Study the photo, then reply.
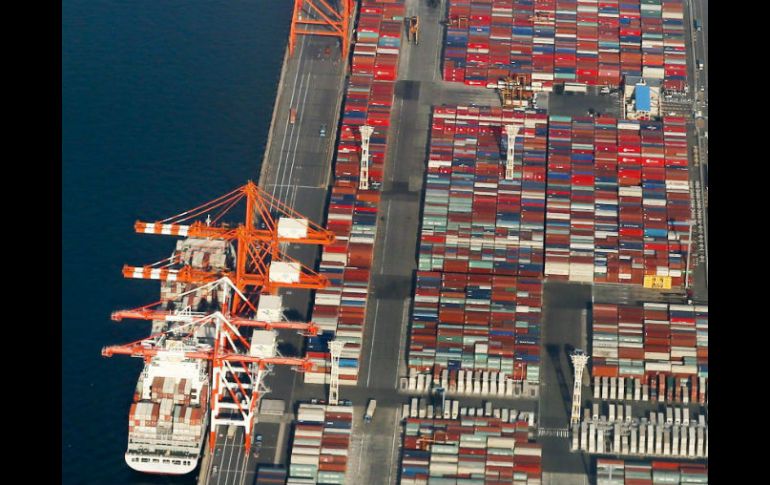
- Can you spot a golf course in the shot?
No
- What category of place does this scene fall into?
port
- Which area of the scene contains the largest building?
top right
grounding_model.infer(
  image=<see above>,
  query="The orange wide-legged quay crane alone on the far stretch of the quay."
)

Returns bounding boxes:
[288,0,357,60]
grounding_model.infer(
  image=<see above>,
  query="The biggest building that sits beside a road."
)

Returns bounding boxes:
[623,74,662,120]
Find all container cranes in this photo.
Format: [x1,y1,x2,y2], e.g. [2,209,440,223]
[132,177,336,320]
[100,310,308,456]
[120,223,330,373]
[109,273,319,421]
[288,0,357,60]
